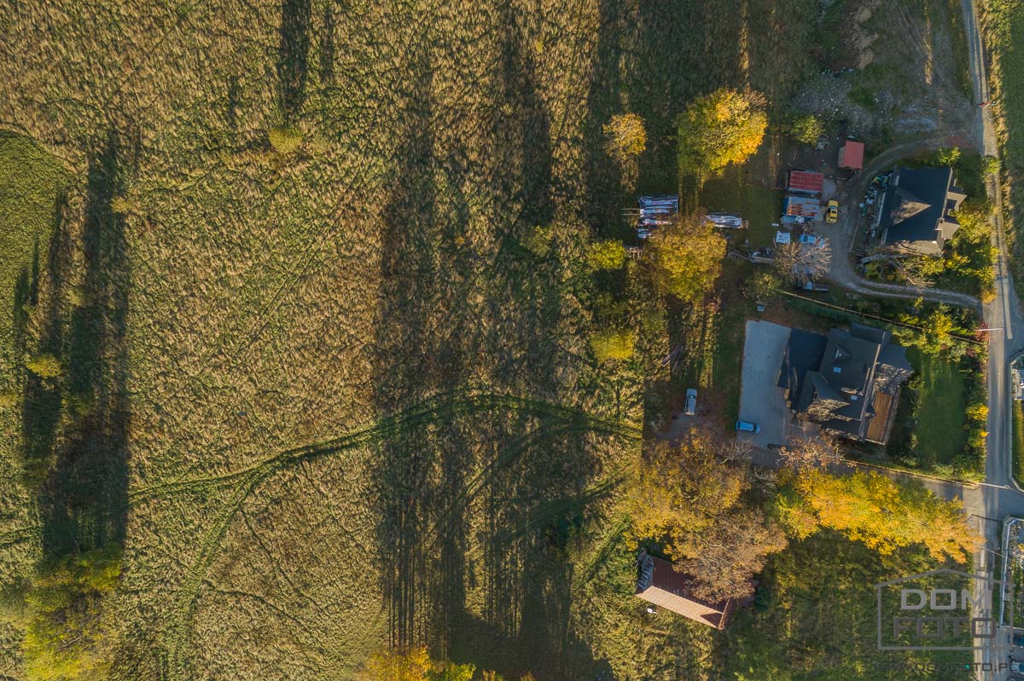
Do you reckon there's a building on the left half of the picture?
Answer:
No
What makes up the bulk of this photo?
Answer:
grass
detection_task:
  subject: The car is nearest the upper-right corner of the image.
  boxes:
[826,201,839,223]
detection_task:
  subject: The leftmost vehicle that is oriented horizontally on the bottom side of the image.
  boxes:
[735,420,758,432]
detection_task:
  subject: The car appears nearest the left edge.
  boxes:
[685,389,697,415]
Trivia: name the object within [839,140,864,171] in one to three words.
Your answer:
shed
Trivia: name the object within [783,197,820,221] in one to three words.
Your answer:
shed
